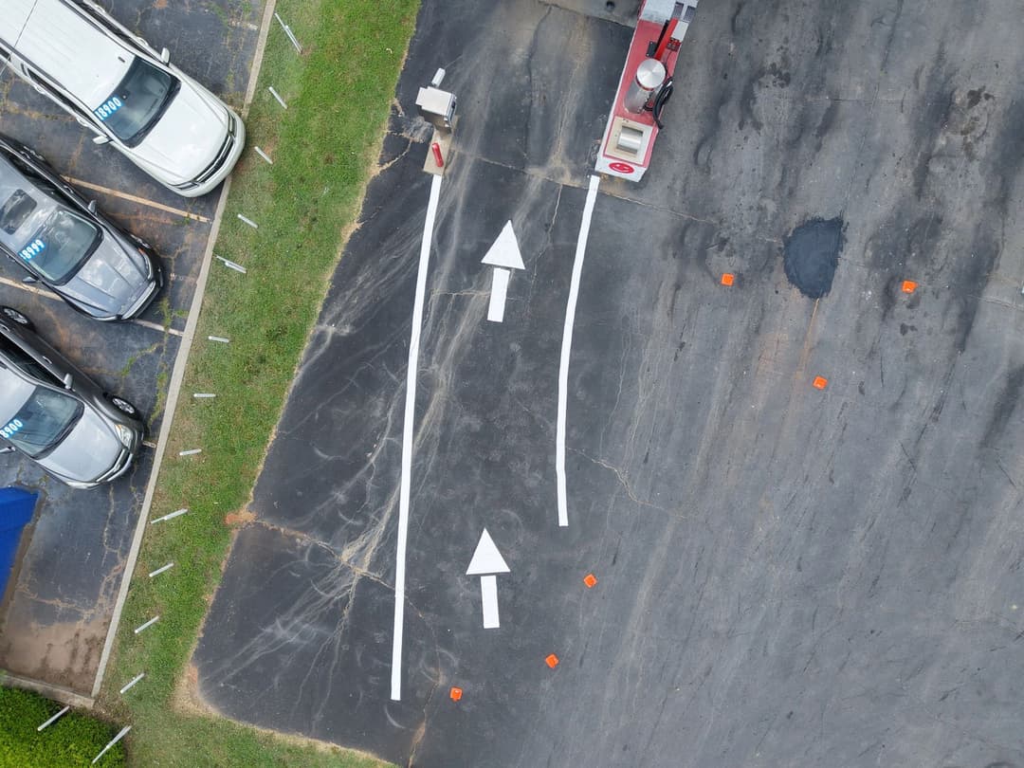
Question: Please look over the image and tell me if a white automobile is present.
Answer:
Yes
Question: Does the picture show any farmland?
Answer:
No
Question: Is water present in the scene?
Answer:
No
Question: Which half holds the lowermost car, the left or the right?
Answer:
left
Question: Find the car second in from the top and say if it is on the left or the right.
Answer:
left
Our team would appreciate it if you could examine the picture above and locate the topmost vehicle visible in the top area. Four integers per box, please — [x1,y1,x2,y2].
[0,0,246,198]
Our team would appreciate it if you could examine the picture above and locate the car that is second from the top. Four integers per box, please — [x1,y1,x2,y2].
[0,121,164,319]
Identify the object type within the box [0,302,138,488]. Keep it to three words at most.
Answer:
car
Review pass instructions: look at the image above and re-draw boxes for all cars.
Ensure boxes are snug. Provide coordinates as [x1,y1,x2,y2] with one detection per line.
[0,302,138,488]
[0,0,246,198]
[0,121,164,319]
